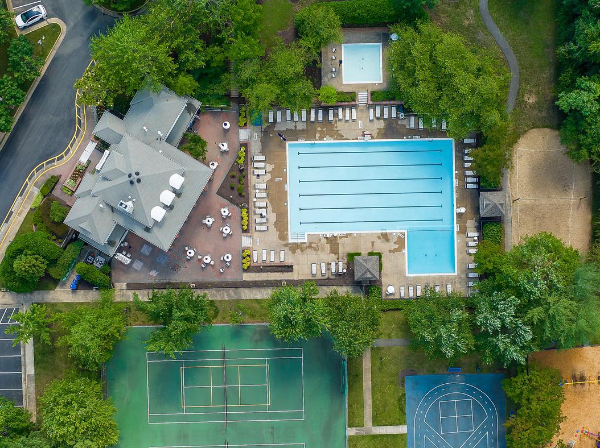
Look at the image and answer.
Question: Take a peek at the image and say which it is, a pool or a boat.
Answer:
pool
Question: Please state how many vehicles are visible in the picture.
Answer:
1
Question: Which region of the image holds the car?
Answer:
top left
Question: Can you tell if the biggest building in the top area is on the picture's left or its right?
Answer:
left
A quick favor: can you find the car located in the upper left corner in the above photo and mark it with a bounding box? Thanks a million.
[16,5,48,28]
